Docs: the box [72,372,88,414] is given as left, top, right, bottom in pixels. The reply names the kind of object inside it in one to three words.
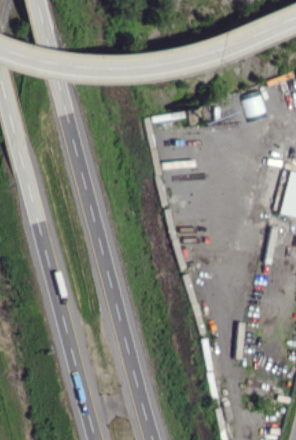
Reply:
vehicle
